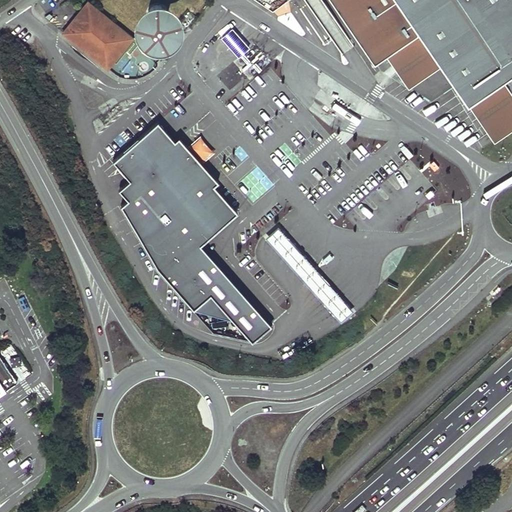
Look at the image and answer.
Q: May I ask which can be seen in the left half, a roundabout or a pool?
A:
roundabout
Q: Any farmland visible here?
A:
No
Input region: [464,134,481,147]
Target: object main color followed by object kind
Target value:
white vehicle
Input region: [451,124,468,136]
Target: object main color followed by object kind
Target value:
white vehicle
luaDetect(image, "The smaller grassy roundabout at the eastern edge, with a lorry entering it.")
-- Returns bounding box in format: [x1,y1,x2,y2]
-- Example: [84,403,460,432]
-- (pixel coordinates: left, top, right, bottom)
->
[470,164,512,264]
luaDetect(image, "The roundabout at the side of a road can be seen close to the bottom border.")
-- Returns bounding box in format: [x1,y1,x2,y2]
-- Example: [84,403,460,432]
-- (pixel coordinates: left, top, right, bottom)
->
[93,358,233,498]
